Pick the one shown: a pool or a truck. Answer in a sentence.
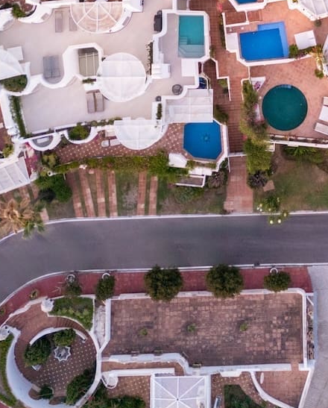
This aerial view contains a pool.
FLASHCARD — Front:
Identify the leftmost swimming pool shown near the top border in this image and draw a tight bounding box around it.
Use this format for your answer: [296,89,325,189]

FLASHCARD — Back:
[177,15,207,59]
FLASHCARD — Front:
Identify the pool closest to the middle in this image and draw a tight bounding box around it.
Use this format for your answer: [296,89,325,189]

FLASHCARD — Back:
[181,119,223,161]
